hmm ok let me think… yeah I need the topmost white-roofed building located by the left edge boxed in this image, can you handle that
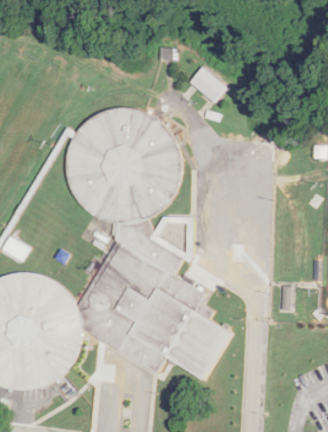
[2,236,31,262]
